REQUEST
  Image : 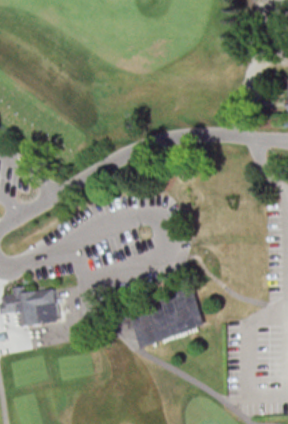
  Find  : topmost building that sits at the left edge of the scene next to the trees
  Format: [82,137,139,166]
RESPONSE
[0,285,68,329]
